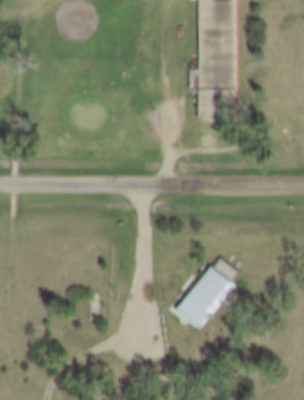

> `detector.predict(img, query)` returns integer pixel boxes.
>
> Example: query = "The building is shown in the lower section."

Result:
[176,258,238,326]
